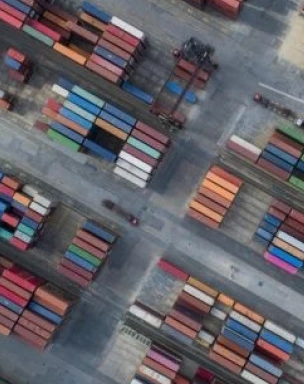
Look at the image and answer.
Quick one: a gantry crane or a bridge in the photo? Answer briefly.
gantry crane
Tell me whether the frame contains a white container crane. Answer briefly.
No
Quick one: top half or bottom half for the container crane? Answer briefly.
top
